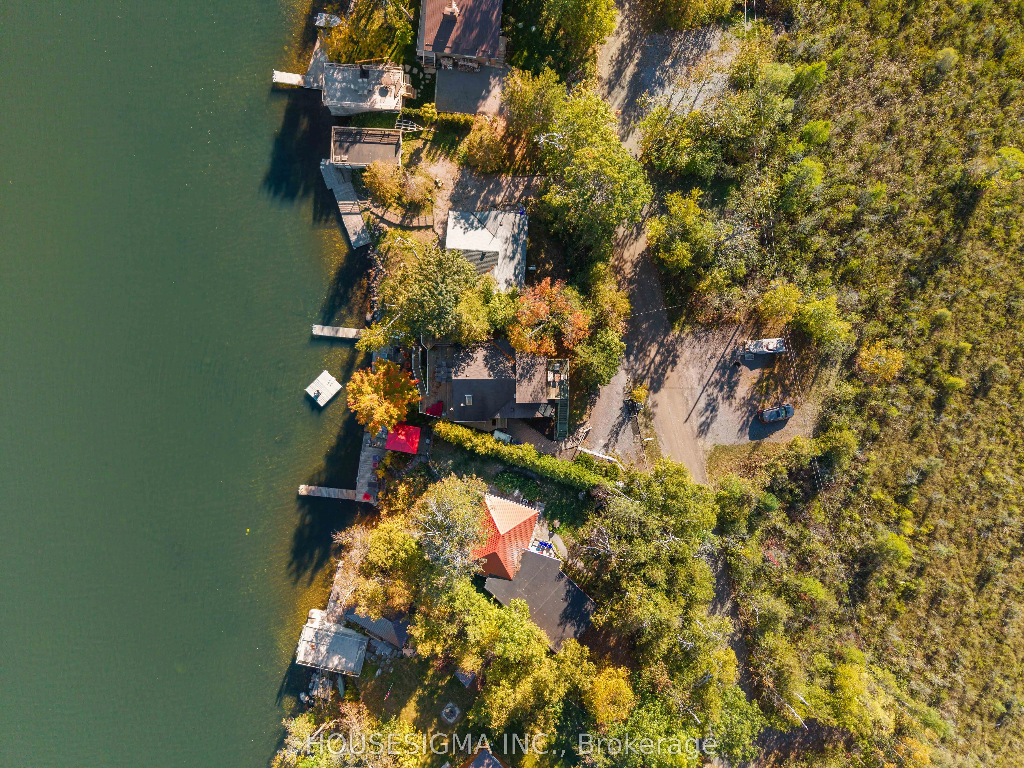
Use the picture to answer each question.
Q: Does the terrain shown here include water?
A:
Yes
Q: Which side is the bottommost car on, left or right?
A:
right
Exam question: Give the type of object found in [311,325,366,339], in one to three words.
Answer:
pier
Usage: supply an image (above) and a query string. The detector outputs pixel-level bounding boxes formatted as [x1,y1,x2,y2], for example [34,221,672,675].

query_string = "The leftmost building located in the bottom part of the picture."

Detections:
[297,622,369,677]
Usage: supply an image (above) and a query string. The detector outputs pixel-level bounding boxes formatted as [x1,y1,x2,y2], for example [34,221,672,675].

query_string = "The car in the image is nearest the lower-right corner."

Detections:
[754,403,794,424]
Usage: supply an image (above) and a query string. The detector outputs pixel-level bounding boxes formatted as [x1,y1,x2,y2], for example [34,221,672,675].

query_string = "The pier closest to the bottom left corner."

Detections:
[297,485,356,500]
